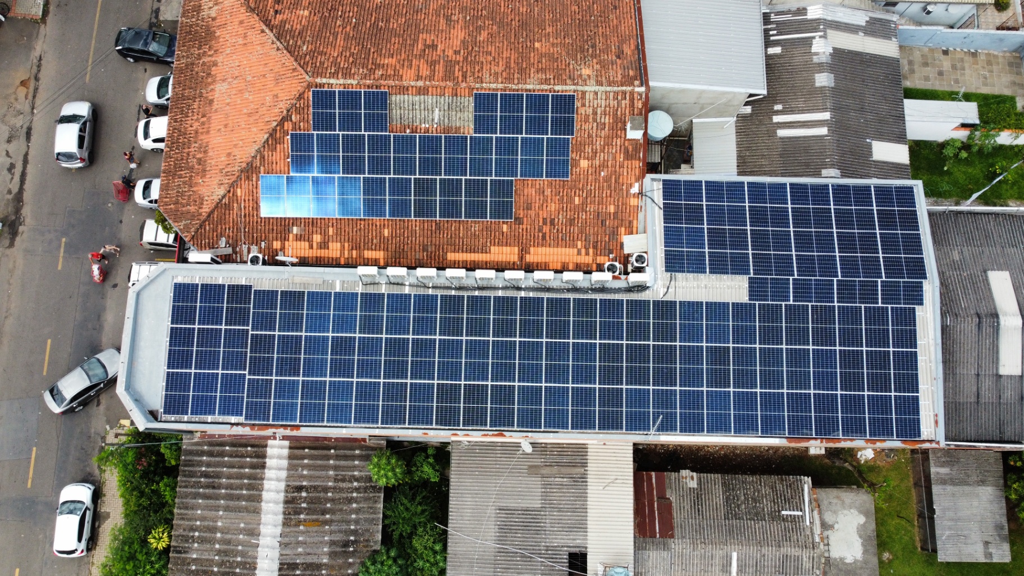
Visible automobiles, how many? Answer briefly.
9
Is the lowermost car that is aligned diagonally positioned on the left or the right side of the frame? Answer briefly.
left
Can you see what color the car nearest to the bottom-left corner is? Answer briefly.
white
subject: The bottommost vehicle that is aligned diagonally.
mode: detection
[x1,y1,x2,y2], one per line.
[46,351,121,413]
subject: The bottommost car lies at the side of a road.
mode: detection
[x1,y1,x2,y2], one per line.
[54,479,103,563]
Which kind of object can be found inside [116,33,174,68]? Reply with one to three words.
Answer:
car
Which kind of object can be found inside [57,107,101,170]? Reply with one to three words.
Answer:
car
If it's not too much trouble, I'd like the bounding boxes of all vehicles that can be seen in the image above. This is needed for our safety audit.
[147,78,170,110]
[46,351,121,413]
[138,121,165,154]
[135,219,178,254]
[134,179,159,212]
[57,107,101,170]
[116,33,174,68]
[120,260,167,290]
[54,479,103,563]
